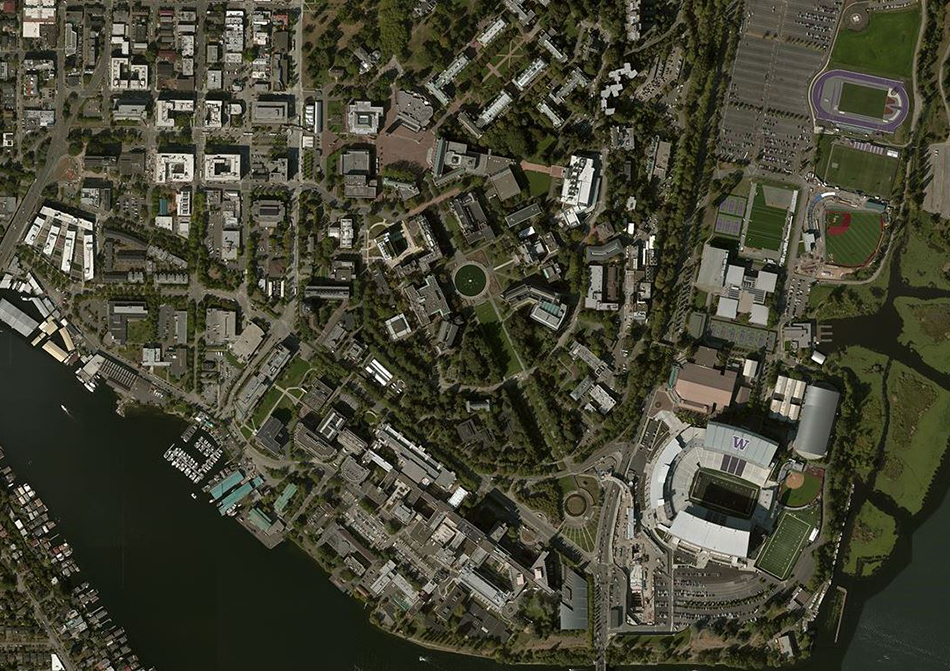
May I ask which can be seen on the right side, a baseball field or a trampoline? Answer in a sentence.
You can see a baseball field on the right side.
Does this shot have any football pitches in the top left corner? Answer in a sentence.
No, the scene shows no football pitch in the top left corner.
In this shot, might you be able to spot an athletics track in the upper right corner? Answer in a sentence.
Yes, an athletics track appears in the upper right corner.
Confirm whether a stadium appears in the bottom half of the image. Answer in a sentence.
Yes, a stadium appears in the bottom half of the image.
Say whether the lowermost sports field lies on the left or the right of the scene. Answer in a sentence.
The lowermost sports field is on the right side of the image.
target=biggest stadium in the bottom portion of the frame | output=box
[650,421,782,563]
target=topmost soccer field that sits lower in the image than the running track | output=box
[823,143,902,201]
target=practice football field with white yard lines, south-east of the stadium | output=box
[755,511,815,583]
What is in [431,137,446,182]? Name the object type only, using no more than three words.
building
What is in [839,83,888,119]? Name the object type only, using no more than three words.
sports field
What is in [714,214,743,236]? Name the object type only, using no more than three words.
tennis court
